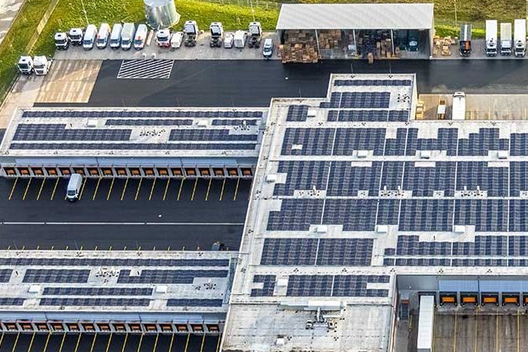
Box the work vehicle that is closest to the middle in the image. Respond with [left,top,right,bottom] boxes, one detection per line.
[205,236,222,249]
